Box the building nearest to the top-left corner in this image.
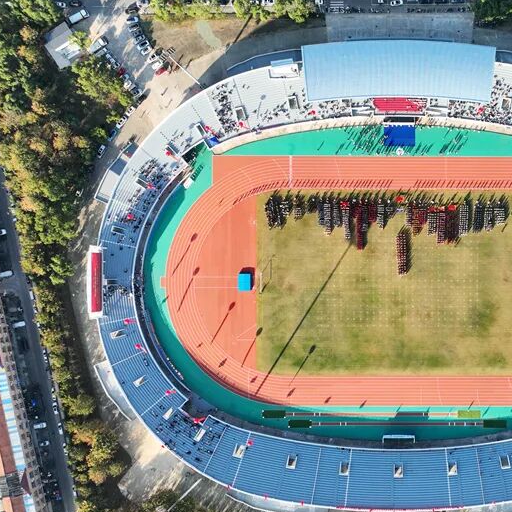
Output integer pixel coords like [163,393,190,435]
[44,21,89,70]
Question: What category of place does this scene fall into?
sports ground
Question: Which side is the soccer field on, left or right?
right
